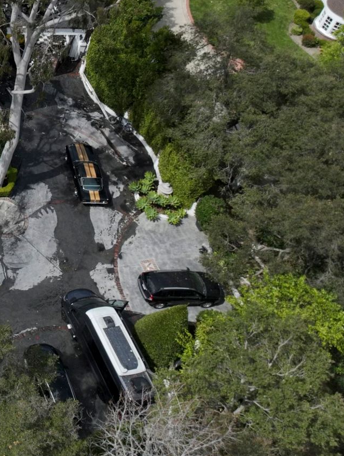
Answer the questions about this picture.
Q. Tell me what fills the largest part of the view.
trees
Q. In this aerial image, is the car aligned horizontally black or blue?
black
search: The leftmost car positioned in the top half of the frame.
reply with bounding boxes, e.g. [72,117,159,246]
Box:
[64,143,111,206]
